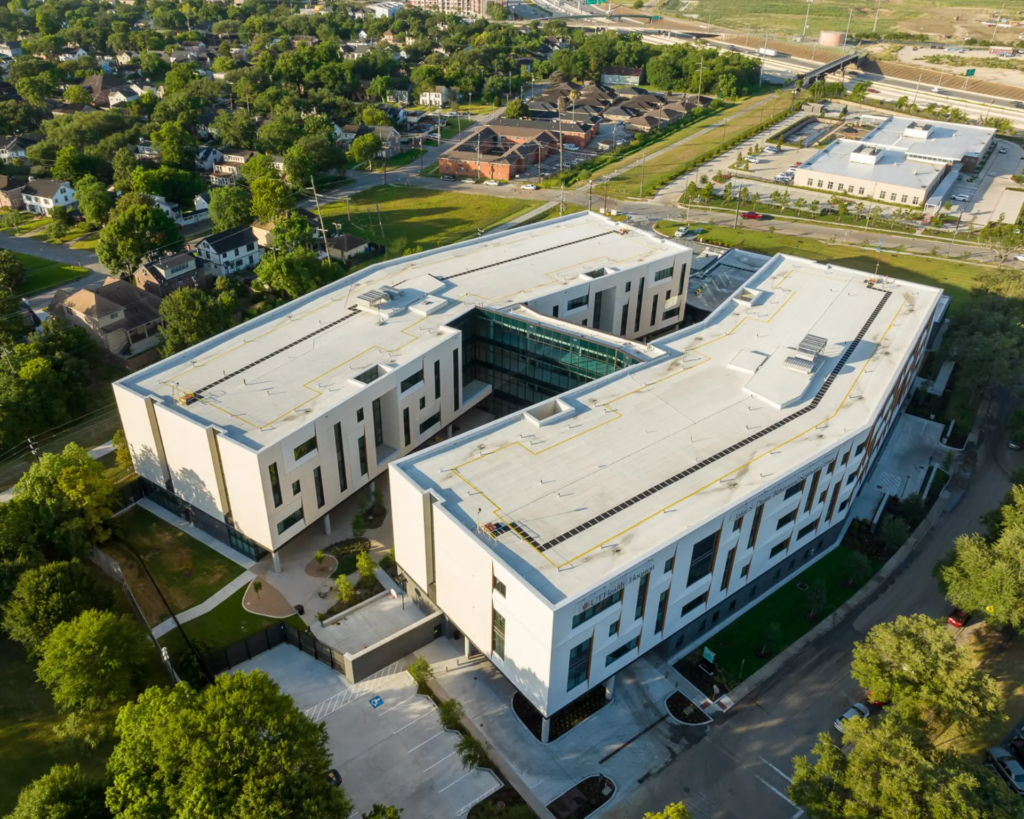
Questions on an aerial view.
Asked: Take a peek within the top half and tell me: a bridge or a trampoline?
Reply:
bridge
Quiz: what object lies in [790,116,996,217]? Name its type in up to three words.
building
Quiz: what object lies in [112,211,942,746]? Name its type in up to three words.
building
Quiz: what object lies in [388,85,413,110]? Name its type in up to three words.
house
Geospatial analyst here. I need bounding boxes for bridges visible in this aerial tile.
[790,51,867,91]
